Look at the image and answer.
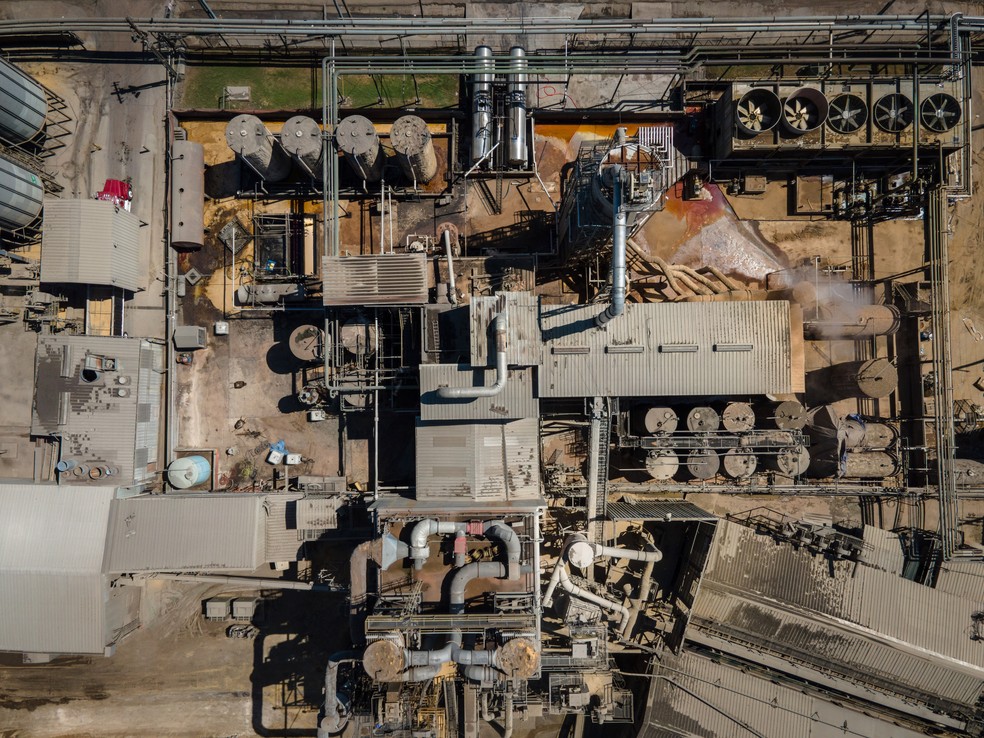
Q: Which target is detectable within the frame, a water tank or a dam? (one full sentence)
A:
I can see a water tank in this picture.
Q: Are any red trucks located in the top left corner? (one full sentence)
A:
Yes, in the top left corner there is a red truck.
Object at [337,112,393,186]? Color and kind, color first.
gray storage tank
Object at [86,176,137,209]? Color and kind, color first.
red truck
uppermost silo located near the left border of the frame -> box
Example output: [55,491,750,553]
[0,54,76,156]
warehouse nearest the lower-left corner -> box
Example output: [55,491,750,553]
[0,475,148,656]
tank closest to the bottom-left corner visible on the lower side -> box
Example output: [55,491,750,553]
[152,453,216,490]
